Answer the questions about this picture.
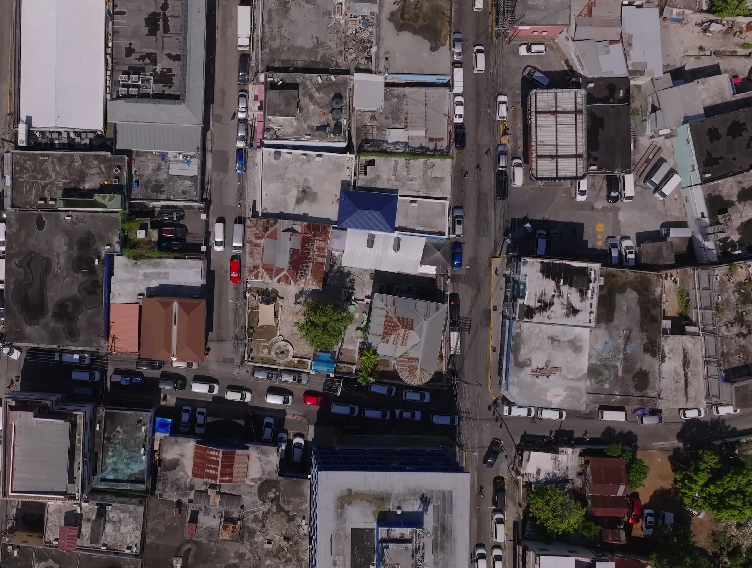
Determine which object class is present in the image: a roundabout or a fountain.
fountain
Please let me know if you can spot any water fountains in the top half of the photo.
No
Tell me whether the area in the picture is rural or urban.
urban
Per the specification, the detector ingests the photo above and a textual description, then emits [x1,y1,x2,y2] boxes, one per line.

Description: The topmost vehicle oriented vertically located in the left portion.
[235,1,252,52]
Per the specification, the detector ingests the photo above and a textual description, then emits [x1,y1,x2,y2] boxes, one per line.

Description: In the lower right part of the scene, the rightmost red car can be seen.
[625,493,644,524]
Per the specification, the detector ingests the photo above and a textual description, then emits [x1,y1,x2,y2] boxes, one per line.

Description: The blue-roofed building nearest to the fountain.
[310,349,336,374]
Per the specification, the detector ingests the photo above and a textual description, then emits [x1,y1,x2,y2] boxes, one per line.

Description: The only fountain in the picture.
[271,338,295,362]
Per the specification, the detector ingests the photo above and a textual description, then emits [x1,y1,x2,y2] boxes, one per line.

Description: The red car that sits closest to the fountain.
[299,393,325,407]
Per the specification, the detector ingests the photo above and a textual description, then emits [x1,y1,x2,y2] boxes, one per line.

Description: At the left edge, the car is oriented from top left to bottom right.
[0,341,27,364]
